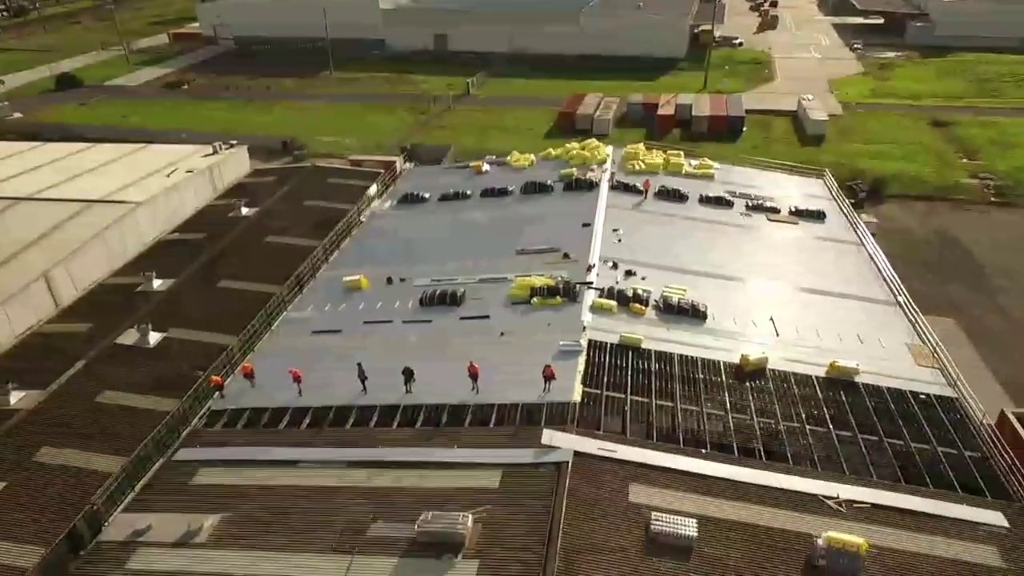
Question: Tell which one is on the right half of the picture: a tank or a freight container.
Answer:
freight container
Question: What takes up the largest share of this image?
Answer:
buildings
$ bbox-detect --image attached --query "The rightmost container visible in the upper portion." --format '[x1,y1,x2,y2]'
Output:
[792,94,829,137]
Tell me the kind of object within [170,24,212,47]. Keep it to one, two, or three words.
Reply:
shed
